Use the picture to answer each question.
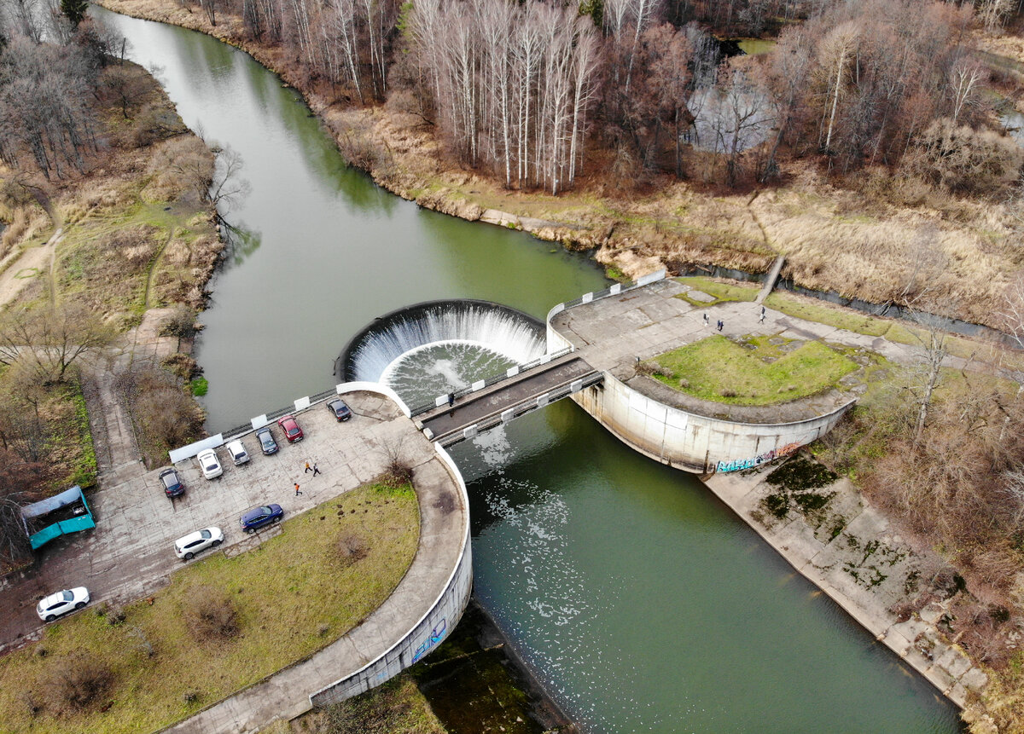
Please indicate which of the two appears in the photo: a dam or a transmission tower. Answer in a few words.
dam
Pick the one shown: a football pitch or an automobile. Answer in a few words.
automobile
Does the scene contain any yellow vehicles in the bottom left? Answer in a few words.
No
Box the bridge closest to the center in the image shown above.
[401,350,605,452]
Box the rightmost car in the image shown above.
[325,396,353,418]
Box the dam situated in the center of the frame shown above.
[337,299,551,416]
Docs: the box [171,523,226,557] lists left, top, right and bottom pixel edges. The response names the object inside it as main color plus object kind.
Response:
white car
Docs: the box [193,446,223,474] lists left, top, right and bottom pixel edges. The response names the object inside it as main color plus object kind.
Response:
white car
